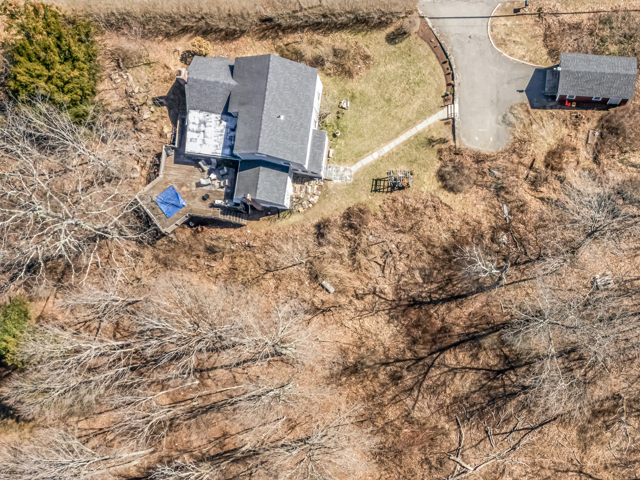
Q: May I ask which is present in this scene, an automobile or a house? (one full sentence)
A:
The one in the frame is a house.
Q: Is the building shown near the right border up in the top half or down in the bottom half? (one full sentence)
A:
The top half of the photo is where the building shown near the right border is.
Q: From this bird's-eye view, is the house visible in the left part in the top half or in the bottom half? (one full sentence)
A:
The house visible in the left part is in the top half of the image.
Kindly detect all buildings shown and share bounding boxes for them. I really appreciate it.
[175,51,329,213]
[541,53,640,109]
